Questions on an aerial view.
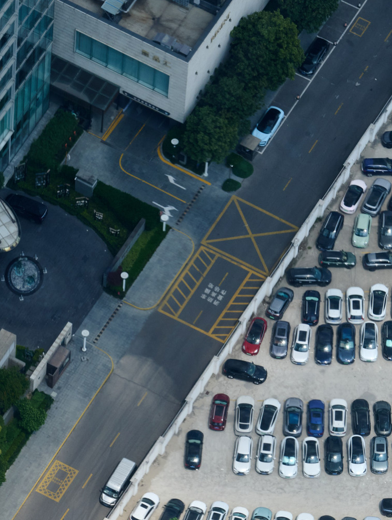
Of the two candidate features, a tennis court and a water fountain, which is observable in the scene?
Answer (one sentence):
I can see a water fountain in this picture.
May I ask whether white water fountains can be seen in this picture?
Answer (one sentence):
No, no white water fountain is visible in the view.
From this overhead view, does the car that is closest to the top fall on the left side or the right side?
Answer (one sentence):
The car that is closest to the top appears in the right half of the scene.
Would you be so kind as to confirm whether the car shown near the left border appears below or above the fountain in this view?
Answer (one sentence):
In the image, the car shown near the left border appears above the fountain.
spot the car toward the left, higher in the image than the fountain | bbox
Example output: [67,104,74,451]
[5,193,50,224]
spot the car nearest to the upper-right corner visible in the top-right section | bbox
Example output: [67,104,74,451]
[300,38,330,75]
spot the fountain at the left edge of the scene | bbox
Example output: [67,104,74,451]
[4,257,44,292]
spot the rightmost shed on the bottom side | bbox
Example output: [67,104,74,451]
[48,346,70,383]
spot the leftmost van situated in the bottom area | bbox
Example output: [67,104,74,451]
[102,460,134,505]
